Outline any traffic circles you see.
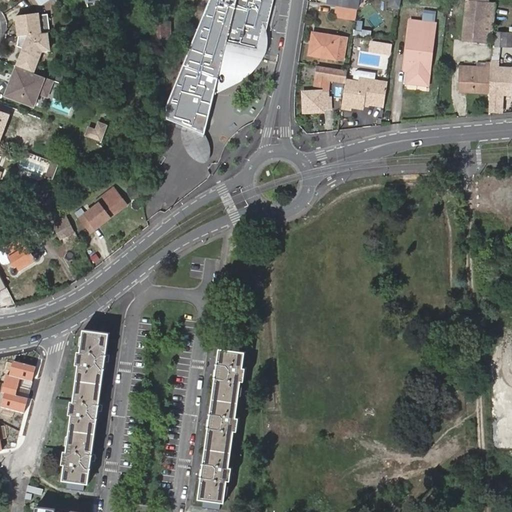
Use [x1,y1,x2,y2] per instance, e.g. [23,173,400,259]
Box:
[240,152,314,221]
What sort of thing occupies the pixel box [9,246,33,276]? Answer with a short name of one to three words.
house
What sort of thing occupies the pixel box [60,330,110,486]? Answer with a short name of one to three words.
building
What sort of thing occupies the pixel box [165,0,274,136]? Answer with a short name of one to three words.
building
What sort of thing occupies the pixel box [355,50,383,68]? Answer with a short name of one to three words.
swimming pool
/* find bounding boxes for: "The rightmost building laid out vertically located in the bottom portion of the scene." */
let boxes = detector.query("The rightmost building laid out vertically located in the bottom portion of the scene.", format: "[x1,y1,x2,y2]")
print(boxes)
[196,348,246,504]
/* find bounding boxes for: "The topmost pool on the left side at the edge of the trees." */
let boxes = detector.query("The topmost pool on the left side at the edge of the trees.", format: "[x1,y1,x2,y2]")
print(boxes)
[50,99,72,116]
